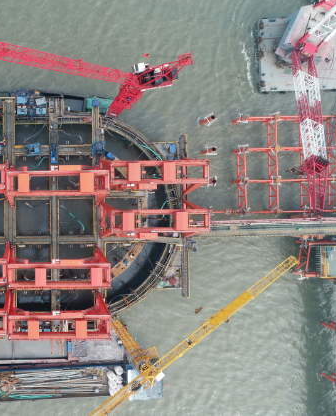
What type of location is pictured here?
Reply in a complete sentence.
This image shows a port.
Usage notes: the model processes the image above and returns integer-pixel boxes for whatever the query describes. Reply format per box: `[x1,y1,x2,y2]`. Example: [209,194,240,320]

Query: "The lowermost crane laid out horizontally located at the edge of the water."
[7,293,112,342]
